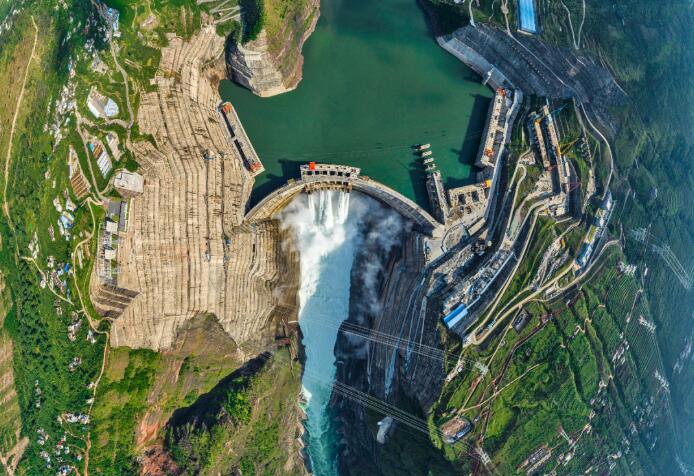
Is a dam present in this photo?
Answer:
Yes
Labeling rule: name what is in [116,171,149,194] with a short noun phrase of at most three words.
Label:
building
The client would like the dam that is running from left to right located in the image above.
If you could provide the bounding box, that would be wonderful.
[239,166,443,243]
